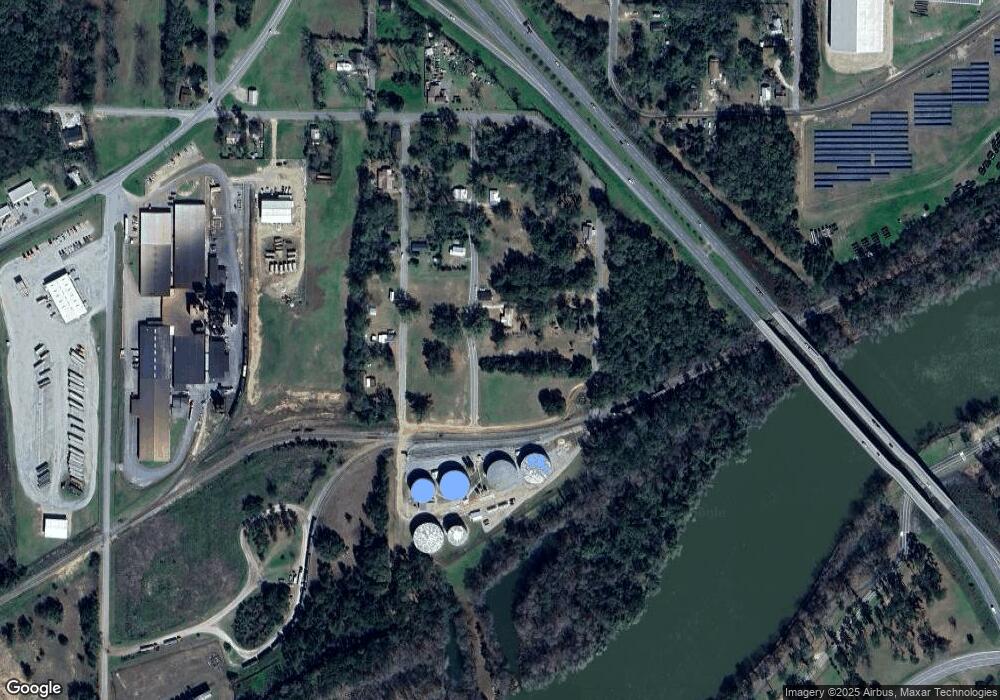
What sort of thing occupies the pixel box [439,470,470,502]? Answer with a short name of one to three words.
storage tank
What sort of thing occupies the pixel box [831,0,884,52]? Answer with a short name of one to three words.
building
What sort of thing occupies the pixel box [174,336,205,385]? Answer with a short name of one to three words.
shed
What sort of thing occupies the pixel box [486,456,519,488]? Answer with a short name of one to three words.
storage tank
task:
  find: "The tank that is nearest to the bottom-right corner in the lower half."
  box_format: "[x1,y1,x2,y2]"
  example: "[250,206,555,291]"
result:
[521,453,552,484]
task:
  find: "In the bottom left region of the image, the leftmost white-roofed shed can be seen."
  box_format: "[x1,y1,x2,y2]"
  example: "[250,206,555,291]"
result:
[44,519,67,539]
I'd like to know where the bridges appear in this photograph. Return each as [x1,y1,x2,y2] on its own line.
[755,318,942,522]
